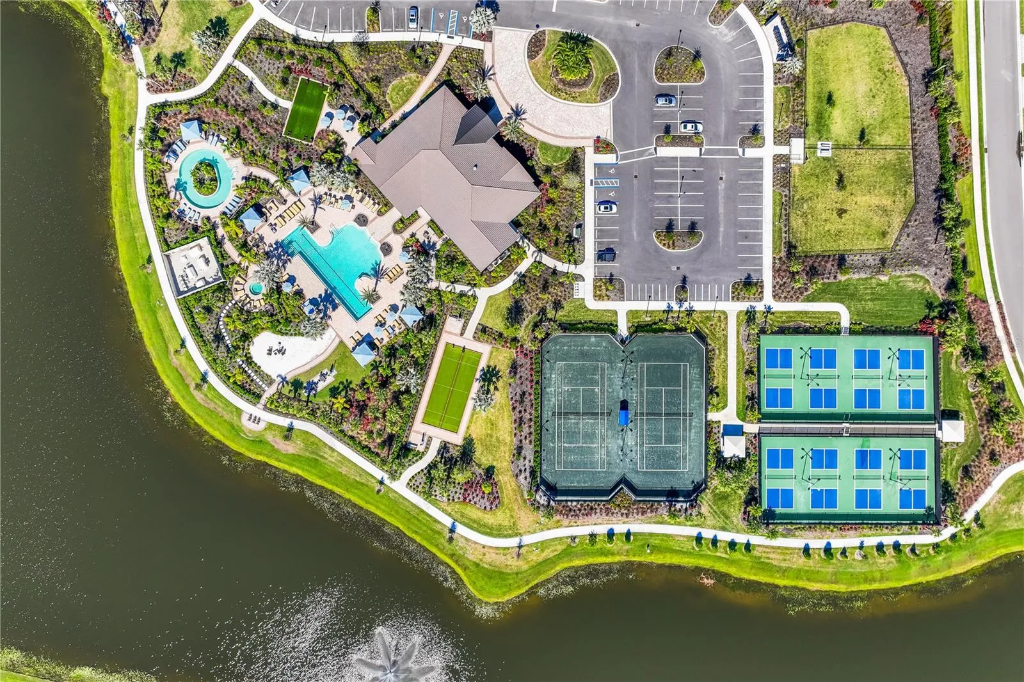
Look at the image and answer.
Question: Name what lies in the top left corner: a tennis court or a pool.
pool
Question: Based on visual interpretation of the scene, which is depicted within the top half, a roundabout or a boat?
roundabout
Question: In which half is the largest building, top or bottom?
top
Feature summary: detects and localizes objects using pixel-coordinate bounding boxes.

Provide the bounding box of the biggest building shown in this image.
[350,86,540,272]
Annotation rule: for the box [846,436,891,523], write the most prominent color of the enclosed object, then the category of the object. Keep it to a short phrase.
green sports court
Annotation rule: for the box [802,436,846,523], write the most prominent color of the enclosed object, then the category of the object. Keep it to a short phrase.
green sports court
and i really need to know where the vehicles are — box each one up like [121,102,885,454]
[408,7,418,29]
[596,252,617,261]
[655,95,676,106]
[680,122,703,132]
[597,203,617,212]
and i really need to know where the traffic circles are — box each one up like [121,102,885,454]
[525,28,621,106]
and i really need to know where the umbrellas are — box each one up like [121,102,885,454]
[321,115,332,127]
[282,281,293,293]
[386,310,397,322]
[341,199,352,211]
[335,109,346,120]
[343,120,354,131]
[398,251,410,262]
[373,325,384,336]
[303,302,315,314]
